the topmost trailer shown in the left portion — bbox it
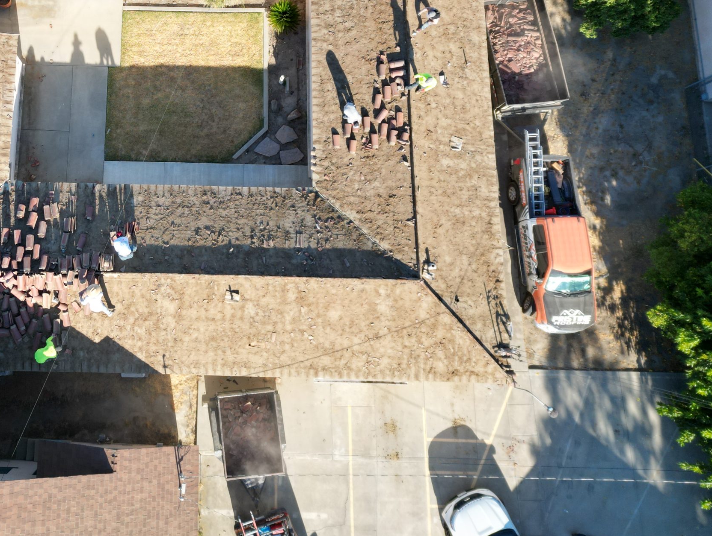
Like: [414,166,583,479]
[205,381,292,510]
